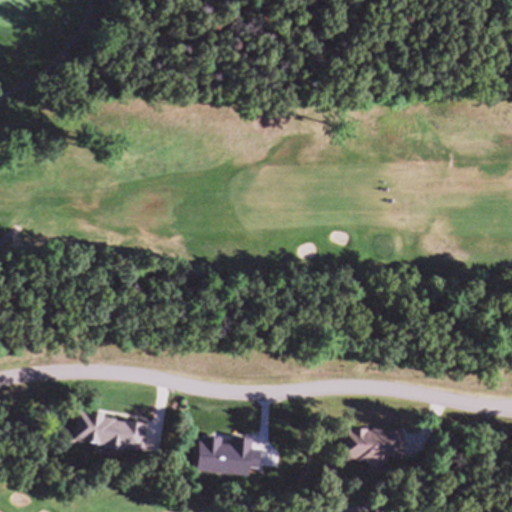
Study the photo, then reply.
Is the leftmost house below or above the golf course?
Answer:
below it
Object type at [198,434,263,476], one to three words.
house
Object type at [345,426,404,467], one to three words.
house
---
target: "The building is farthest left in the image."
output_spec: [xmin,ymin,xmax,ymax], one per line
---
[68,408,144,450]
